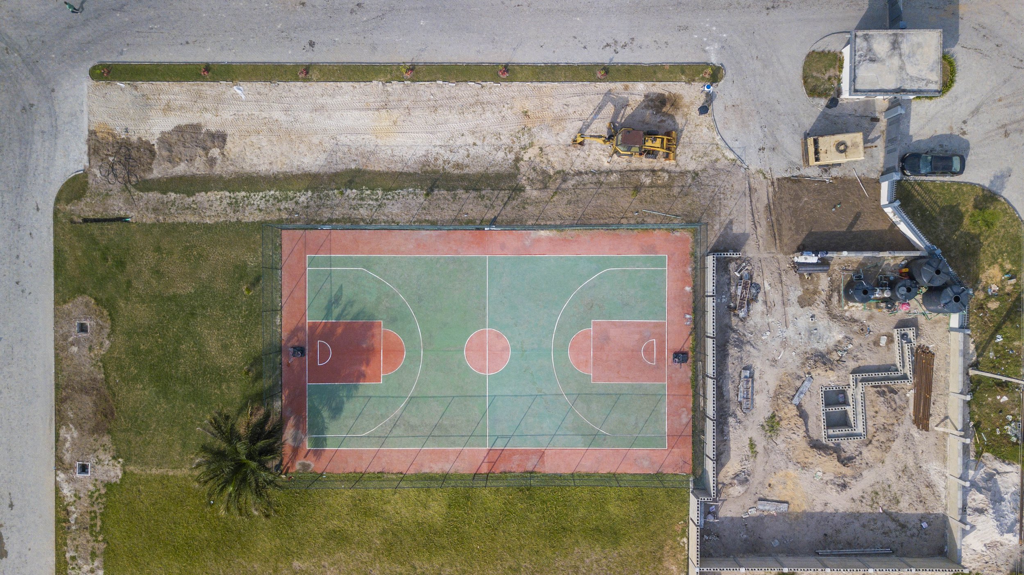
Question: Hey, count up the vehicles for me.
two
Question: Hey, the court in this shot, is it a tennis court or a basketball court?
basketball court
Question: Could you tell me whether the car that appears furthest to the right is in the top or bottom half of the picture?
top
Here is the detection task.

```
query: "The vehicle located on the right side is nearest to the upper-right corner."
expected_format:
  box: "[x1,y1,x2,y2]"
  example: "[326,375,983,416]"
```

[901,149,967,178]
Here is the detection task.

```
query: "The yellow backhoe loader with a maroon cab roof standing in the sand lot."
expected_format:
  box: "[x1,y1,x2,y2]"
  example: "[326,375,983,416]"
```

[572,122,677,164]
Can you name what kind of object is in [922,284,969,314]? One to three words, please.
water tank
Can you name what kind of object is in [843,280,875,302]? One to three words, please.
water tank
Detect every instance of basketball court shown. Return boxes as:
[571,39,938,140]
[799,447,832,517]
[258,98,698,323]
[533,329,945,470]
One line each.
[282,229,693,475]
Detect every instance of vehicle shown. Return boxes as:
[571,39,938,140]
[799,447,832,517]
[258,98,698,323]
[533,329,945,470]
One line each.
[901,149,967,178]
[572,122,677,164]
